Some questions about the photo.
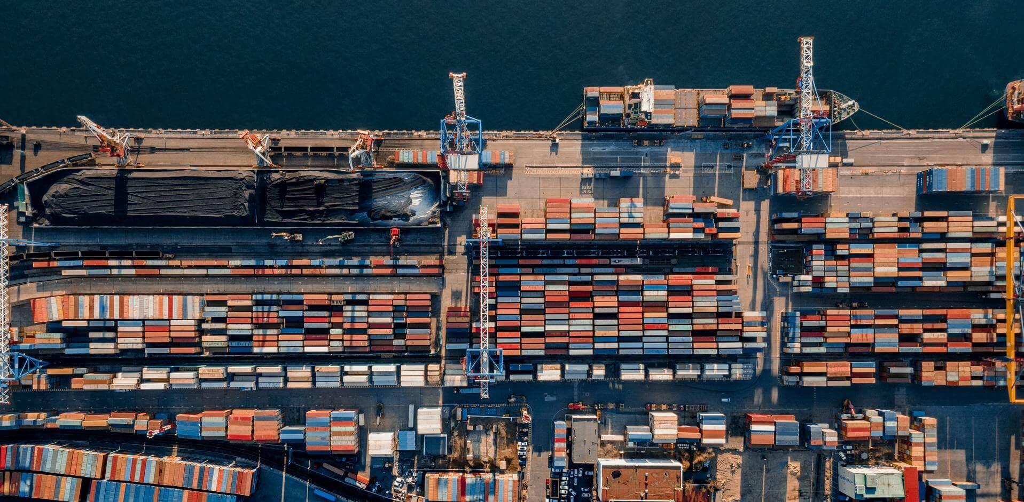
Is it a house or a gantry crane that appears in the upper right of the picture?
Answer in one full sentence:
It is a gantry crane that can be seen in the upper right of the picture.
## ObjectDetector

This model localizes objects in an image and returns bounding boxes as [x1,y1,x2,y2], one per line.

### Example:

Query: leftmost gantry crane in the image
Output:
[0,207,62,398]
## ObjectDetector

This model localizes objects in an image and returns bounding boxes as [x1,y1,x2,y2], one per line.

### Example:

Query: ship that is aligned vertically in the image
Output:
[1003,80,1024,125]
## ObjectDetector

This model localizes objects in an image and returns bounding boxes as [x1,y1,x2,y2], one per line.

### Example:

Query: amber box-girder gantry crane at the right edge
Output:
[992,196,1024,402]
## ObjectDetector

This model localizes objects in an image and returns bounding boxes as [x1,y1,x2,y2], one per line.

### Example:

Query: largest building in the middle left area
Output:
[13,183,38,222]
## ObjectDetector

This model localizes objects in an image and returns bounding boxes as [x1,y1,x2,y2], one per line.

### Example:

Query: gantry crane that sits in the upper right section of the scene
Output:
[759,35,836,199]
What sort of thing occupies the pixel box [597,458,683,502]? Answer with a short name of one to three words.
building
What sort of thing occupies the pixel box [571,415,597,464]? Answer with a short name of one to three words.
building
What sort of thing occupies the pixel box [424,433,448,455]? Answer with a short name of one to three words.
shed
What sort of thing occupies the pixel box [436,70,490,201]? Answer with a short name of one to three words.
container crane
